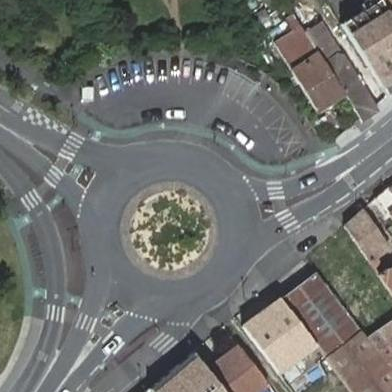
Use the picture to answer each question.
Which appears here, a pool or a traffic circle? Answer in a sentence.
It is a traffic circle that can be seen here.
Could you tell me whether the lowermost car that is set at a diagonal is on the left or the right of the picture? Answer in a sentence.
The lowermost car that is set at a diagonal appears in the left half of the scene.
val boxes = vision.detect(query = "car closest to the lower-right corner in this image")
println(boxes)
[297,235,316,250]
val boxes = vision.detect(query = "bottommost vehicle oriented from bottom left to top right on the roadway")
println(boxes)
[102,335,123,355]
